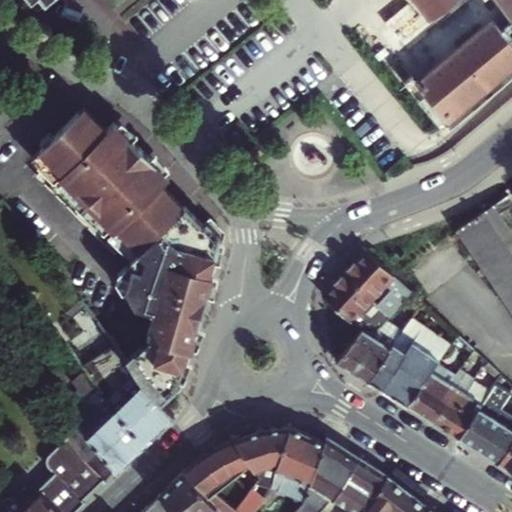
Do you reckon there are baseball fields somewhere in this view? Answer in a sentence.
No, I can't see a single baseball field in this photo.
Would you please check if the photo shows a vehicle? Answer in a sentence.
Yes, the picture does show a vehicle.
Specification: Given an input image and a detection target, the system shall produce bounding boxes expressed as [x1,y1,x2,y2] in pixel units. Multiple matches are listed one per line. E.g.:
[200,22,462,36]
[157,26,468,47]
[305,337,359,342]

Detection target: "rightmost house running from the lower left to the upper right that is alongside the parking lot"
[420,6,512,127]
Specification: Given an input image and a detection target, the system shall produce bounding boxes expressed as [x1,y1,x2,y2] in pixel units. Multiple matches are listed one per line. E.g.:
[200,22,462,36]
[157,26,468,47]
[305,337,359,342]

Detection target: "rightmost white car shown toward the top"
[420,174,446,190]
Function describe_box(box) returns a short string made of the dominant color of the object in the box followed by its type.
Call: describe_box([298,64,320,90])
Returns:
white car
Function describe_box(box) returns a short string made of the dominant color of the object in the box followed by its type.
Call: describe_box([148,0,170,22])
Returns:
gray car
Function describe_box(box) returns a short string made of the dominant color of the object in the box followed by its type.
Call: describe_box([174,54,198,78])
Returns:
gray car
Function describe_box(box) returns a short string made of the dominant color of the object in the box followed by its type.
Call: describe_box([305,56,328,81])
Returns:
white car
